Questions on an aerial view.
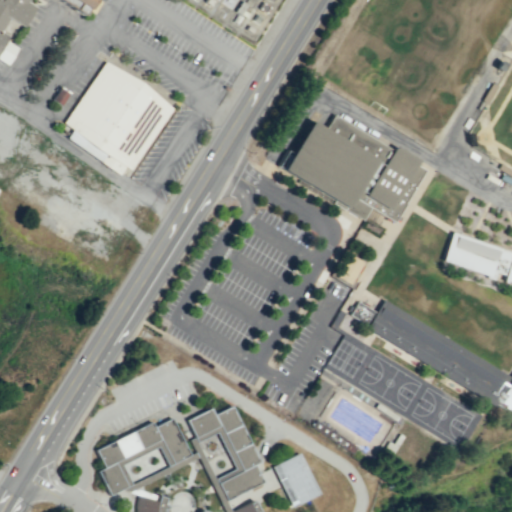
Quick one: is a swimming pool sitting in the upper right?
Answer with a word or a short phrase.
No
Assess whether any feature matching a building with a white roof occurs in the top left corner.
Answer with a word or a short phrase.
Yes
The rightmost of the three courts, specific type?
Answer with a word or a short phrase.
basketball court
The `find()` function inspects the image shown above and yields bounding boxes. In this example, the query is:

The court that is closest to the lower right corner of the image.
[412,387,476,442]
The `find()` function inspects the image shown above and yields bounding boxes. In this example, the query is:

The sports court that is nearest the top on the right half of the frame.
[330,340,368,378]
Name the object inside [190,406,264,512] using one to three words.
building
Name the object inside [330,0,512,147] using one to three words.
sports field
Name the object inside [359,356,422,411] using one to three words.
basketball court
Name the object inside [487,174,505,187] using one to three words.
vehicle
